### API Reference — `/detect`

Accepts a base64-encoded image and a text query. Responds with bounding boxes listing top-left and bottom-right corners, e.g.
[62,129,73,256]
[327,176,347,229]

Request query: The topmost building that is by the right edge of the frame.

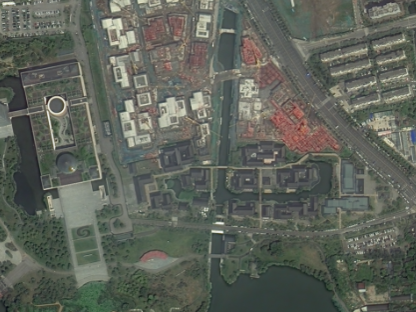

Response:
[367,2,401,22]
